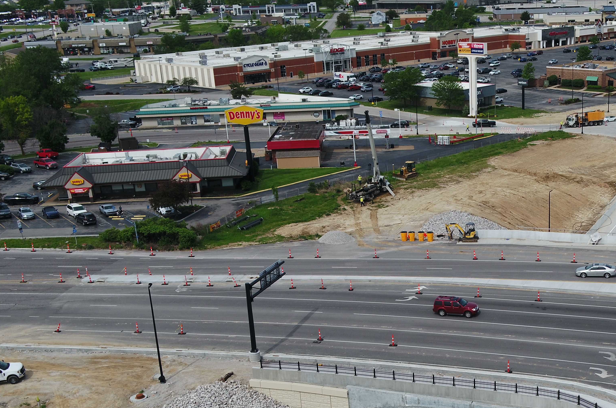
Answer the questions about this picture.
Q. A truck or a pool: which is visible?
truck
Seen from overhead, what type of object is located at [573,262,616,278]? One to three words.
car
